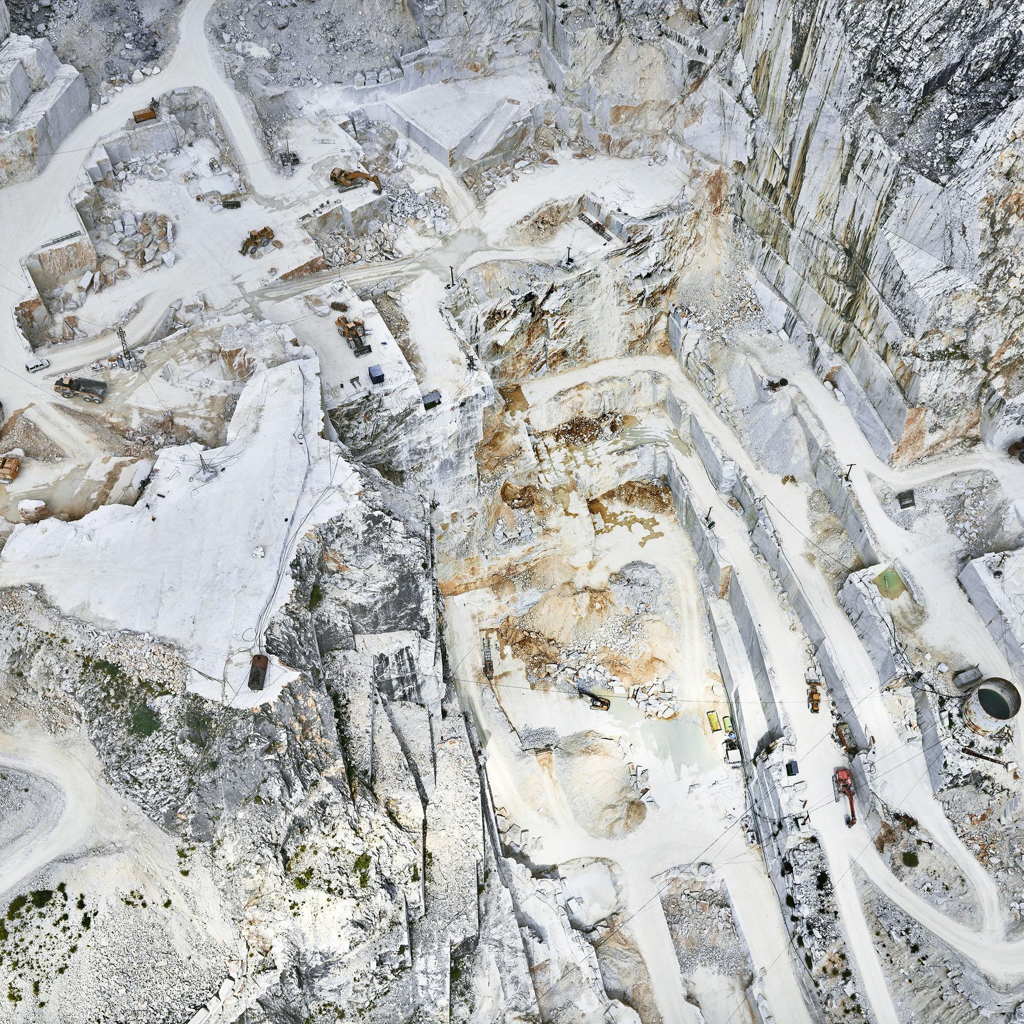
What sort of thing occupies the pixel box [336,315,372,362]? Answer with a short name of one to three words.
work vehicle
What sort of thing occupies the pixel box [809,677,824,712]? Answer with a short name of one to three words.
work vehicle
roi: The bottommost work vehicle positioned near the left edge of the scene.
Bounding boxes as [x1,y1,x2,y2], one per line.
[0,460,23,487]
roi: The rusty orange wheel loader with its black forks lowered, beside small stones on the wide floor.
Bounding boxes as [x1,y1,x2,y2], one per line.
[233,226,268,261]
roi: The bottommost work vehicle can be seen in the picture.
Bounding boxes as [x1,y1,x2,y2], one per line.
[834,772,857,828]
